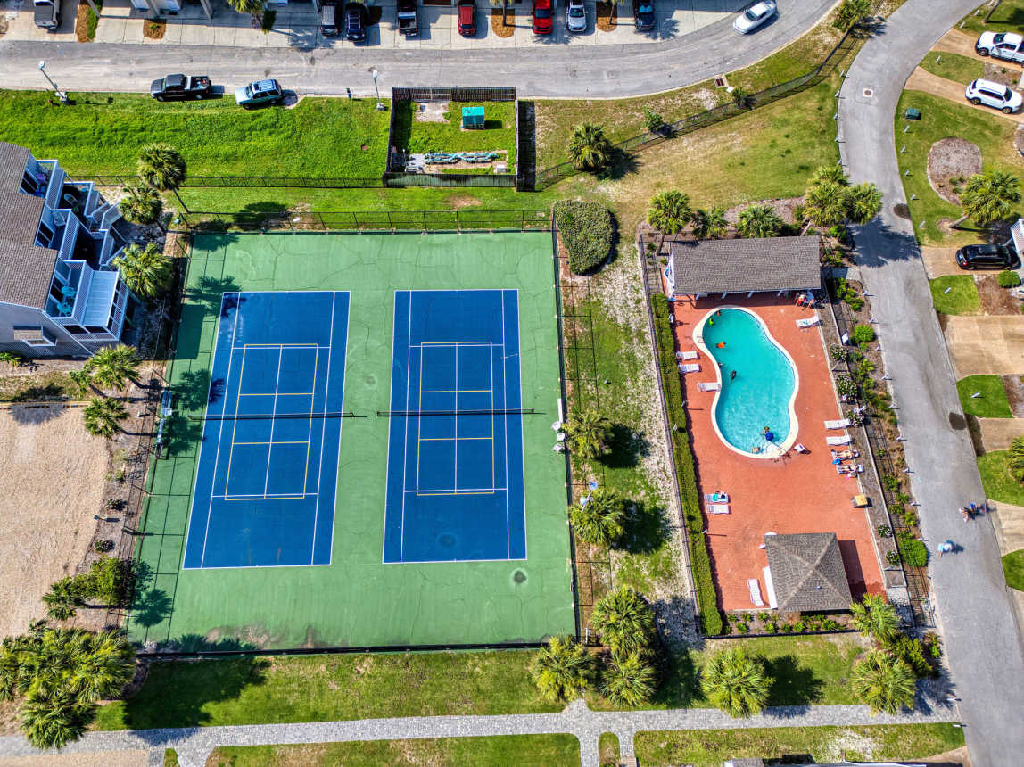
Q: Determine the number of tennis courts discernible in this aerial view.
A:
two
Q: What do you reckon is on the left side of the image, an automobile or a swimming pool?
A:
automobile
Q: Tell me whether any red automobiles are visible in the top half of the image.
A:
Yes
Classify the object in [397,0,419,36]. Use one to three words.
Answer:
truck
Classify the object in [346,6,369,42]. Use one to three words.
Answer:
car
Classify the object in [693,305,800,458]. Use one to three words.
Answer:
swimming pool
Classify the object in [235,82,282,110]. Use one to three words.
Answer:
car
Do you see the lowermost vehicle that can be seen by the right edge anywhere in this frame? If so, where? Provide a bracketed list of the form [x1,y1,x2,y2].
[964,245,1024,272]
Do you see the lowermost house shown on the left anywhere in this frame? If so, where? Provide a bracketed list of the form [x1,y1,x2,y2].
[0,140,144,355]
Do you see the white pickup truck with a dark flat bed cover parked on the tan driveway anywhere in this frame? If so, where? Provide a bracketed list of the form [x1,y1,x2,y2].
[34,0,68,28]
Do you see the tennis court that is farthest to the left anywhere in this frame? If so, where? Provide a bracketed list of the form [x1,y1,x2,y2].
[124,230,376,660]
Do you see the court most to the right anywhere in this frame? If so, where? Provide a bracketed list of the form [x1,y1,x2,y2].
[352,230,579,654]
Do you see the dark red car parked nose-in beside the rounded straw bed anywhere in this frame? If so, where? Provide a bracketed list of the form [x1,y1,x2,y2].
[455,1,477,37]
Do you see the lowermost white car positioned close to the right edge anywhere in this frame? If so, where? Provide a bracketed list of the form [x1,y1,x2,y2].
[974,83,1024,113]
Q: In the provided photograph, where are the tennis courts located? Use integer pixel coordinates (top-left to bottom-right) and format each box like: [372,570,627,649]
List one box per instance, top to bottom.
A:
[124,230,376,660]
[352,230,579,654]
